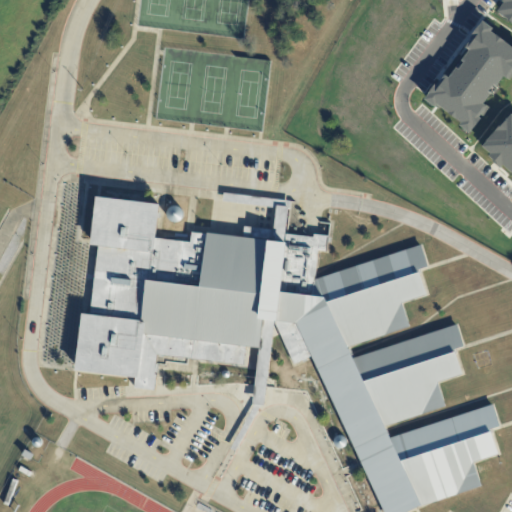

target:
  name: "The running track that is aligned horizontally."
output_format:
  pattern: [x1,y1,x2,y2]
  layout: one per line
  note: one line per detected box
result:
[26,456,174,512]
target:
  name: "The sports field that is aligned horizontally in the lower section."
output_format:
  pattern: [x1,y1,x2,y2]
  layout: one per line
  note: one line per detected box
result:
[44,492,144,512]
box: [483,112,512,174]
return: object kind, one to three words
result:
building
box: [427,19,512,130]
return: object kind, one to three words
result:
building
